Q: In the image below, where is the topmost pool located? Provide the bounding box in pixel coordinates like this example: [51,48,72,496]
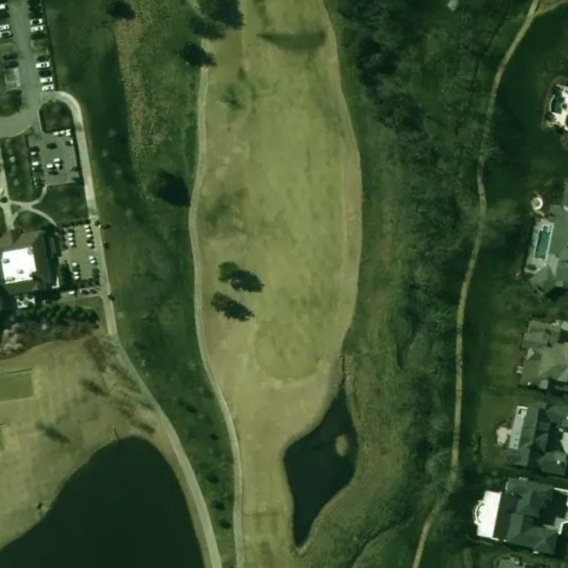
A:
[550,87,567,113]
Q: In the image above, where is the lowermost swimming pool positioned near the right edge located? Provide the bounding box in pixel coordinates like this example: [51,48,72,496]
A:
[535,226,551,259]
